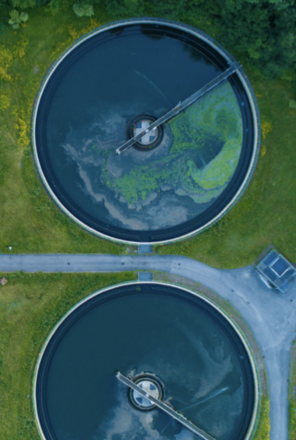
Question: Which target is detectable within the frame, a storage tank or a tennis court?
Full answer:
Visible in the photo is a storage tank.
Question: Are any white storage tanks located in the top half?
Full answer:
No, I see no white storage tank in the top half.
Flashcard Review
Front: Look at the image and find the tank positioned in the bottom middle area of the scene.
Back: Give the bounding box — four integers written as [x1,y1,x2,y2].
[32,278,260,440]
